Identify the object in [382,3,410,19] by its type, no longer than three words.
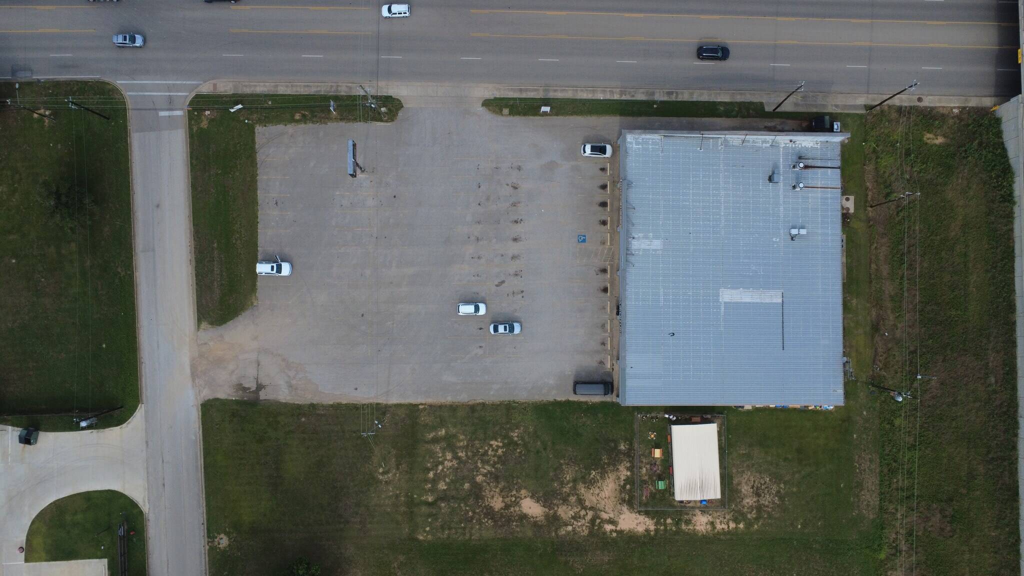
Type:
car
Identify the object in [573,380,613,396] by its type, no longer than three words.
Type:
vehicle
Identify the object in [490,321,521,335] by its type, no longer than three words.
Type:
car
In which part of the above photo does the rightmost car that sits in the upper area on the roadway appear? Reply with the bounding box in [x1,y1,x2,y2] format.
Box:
[696,45,729,61]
